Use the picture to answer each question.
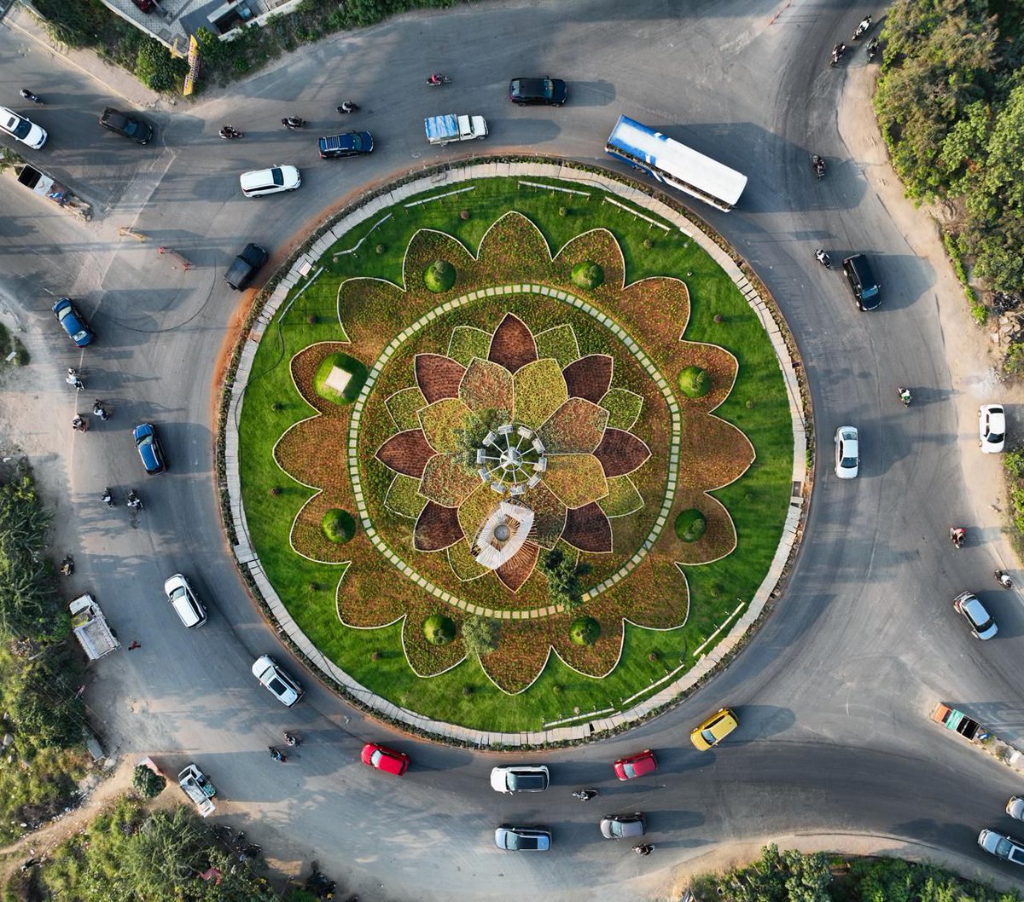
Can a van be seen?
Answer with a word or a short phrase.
Yes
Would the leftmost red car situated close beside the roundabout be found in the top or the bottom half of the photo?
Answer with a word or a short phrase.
bottom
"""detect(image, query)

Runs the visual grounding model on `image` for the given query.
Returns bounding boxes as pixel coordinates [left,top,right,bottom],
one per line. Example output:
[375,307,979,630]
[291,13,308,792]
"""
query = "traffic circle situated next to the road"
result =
[213,150,817,756]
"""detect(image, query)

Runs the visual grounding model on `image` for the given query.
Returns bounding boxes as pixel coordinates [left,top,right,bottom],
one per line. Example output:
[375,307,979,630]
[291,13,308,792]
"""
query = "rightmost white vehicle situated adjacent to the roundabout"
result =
[831,425,861,478]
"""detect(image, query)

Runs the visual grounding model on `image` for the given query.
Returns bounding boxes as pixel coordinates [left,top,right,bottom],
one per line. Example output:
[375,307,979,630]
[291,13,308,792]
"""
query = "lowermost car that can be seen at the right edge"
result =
[975,830,1024,876]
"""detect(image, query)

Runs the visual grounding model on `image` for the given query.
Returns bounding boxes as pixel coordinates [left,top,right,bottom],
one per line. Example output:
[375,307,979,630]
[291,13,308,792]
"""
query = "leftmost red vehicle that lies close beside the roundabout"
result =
[361,740,410,776]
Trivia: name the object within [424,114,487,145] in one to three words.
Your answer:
truck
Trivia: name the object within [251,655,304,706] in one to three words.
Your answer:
car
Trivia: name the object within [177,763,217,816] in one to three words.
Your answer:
van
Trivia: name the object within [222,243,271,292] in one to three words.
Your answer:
car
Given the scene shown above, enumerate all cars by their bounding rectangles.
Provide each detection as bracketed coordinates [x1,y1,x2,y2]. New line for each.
[361,740,410,776]
[952,590,992,639]
[831,425,861,478]
[975,830,1024,876]
[166,573,207,629]
[689,709,739,748]
[0,102,53,148]
[842,254,882,310]
[613,748,658,782]
[318,128,374,160]
[240,164,301,197]
[132,423,169,476]
[251,655,304,706]
[510,76,567,108]
[491,764,548,795]
[496,822,551,854]
[1002,798,1024,829]
[222,243,271,292]
[97,104,157,147]
[975,403,1006,453]
[55,298,96,349]
[599,811,646,841]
